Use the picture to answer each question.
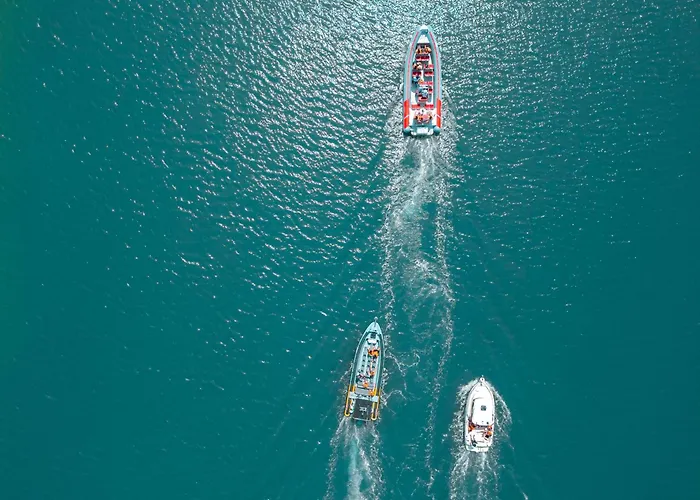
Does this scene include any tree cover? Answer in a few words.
No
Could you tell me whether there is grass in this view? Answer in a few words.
No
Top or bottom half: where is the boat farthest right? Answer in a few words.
bottom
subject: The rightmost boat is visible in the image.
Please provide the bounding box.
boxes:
[464,376,496,453]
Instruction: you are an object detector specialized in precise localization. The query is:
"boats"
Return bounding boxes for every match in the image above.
[345,319,384,422]
[403,25,442,137]
[464,376,496,453]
